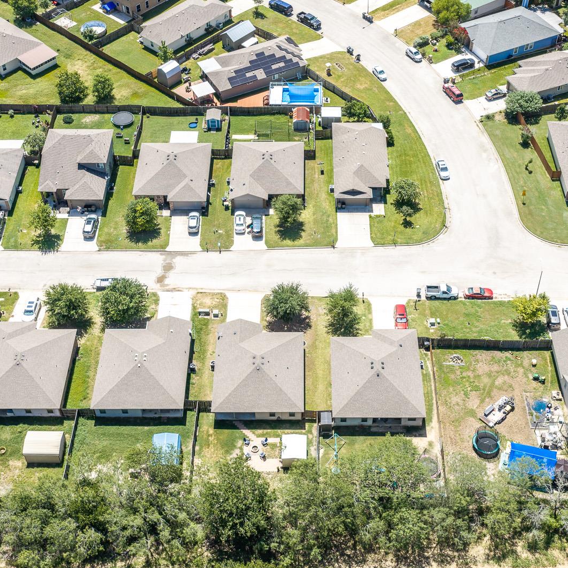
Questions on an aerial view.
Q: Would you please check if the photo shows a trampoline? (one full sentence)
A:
Yes, a trampoline can be made out from above.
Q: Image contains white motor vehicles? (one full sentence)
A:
Yes, the picture does show a white motor vehicle.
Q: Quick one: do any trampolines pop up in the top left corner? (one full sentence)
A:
Yes, a trampoline shows up in the top left corner.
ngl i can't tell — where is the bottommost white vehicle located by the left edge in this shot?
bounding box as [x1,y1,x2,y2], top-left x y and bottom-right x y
[23,294,42,321]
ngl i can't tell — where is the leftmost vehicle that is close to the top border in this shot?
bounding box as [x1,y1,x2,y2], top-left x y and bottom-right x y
[268,0,292,13]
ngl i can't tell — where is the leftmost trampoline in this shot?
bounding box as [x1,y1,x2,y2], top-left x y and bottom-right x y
[111,115,133,131]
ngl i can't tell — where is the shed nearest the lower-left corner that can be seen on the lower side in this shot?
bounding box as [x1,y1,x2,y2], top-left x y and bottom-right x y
[17,437,64,475]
